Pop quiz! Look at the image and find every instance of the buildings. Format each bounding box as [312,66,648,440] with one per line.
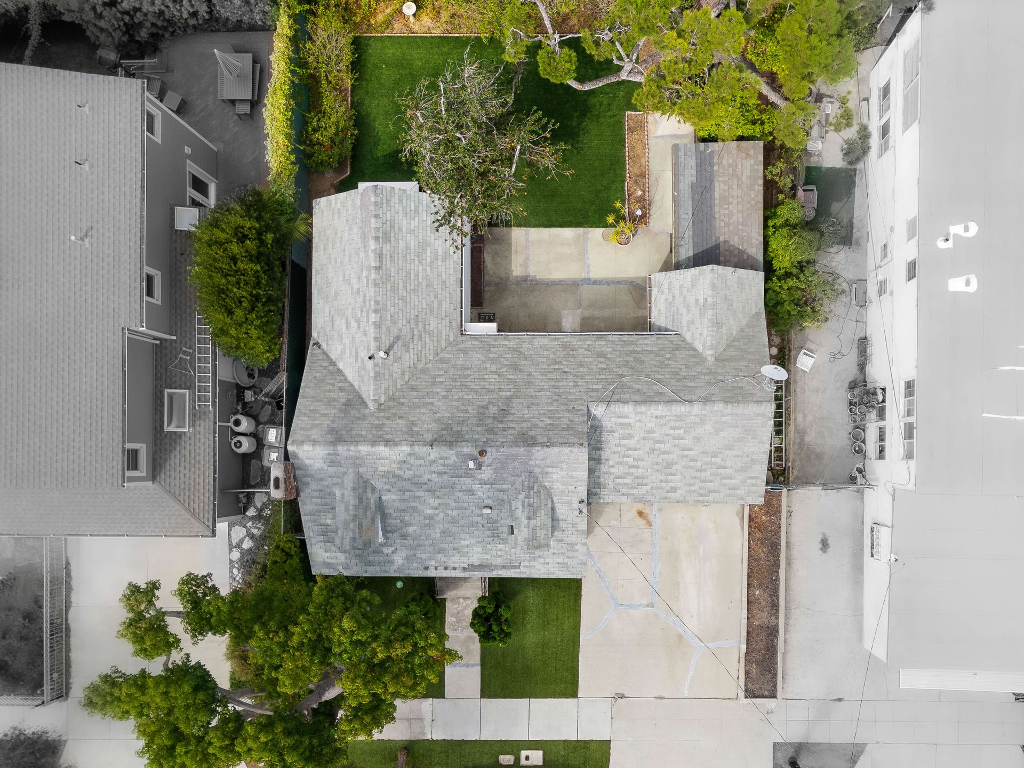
[0,62,243,539]
[286,185,775,577]
[864,1,1024,664]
